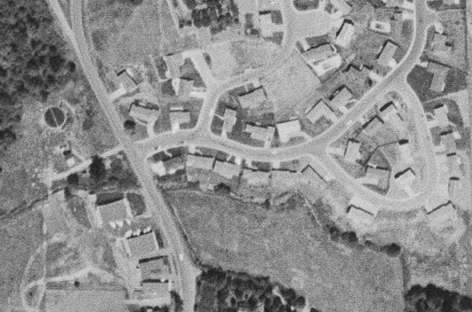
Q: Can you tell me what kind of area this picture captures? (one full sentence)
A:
What you see here is a residential area.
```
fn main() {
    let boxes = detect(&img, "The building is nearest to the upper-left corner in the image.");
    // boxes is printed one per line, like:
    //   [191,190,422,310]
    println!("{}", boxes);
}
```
[116,70,140,94]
